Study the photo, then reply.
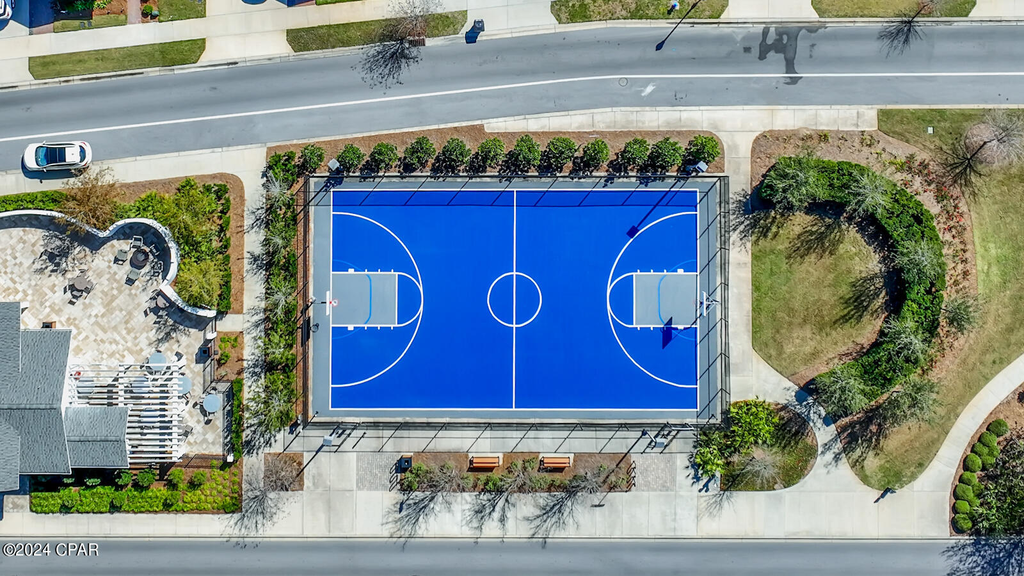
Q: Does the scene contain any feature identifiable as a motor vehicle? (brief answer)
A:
Yes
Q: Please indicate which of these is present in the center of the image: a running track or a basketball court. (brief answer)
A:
basketball court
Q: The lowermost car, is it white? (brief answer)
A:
Yes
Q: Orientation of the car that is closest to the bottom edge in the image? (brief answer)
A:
from side to side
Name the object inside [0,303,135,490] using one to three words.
building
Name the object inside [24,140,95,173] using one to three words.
car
